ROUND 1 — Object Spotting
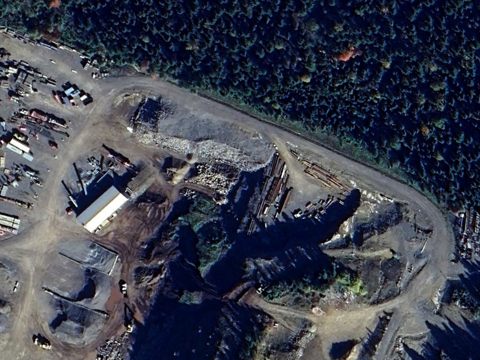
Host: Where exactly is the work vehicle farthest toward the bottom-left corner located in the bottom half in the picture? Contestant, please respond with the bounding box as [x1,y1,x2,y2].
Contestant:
[31,335,50,349]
